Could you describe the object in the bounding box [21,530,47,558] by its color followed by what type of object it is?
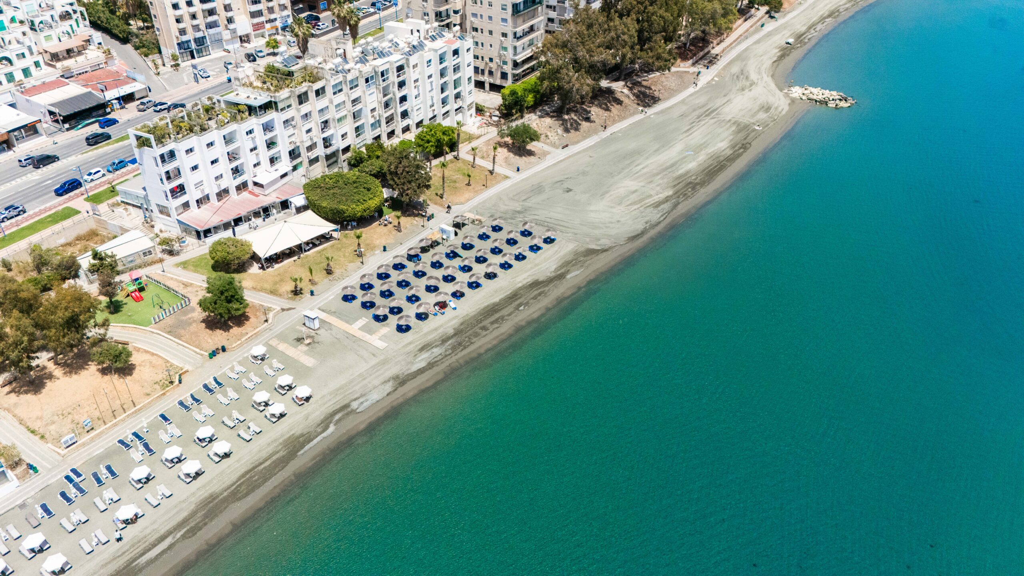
white umbrella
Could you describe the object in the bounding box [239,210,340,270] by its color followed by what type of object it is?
white tent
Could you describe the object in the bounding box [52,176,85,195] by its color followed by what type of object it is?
blue car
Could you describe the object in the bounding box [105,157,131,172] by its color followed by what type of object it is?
blue car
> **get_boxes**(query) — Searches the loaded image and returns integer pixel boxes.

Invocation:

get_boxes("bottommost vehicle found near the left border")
[0,201,32,221]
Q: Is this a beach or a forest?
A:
beach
